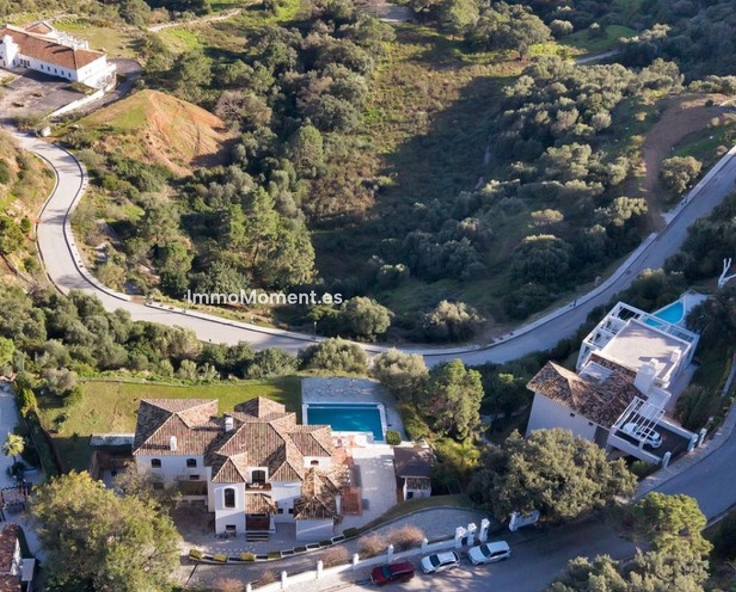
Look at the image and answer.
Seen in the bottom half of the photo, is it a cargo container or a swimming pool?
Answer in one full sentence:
Visible in the bottom half of the photo is a swimming pool.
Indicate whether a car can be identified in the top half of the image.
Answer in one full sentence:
No, looking in the top half of the image, there is no car.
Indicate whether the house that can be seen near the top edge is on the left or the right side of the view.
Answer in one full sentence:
The house that can be seen near the top edge appears in the left half of the scene.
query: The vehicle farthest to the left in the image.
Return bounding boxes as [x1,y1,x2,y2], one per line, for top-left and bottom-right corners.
[371,555,418,583]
